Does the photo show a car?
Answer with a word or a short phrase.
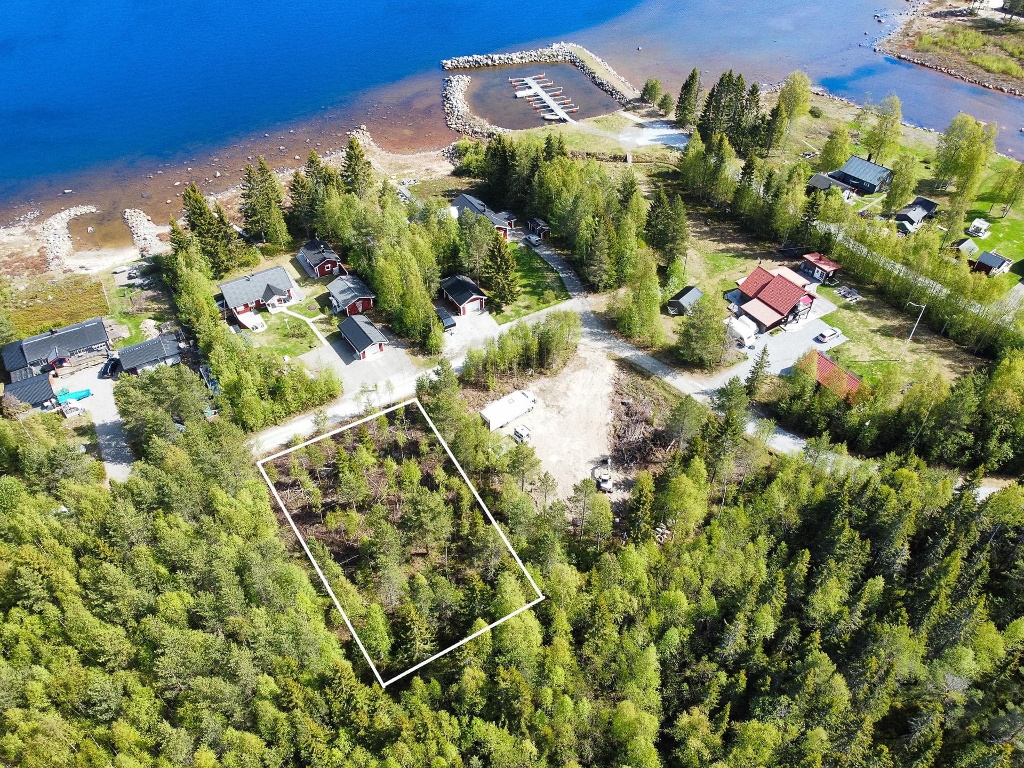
Yes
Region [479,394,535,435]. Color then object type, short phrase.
white truck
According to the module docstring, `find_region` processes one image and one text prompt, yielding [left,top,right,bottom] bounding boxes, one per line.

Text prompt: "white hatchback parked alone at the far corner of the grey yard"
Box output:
[817,326,845,344]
